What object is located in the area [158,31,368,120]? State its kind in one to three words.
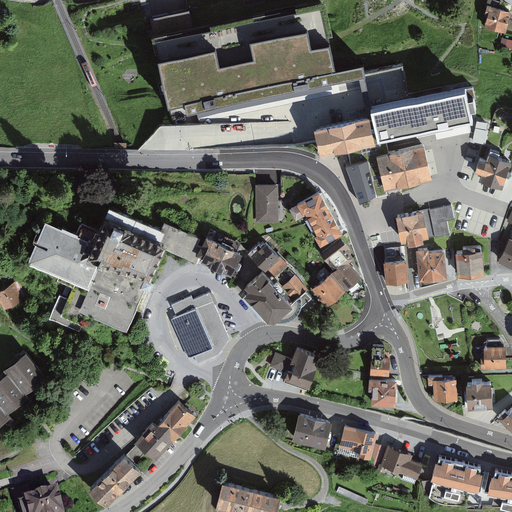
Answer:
building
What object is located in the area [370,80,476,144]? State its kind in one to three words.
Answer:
building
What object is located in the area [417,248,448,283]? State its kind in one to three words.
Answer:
house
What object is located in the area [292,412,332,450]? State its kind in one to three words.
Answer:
house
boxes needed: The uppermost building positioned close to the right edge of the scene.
[483,5,512,34]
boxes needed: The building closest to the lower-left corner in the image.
[23,478,66,512]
